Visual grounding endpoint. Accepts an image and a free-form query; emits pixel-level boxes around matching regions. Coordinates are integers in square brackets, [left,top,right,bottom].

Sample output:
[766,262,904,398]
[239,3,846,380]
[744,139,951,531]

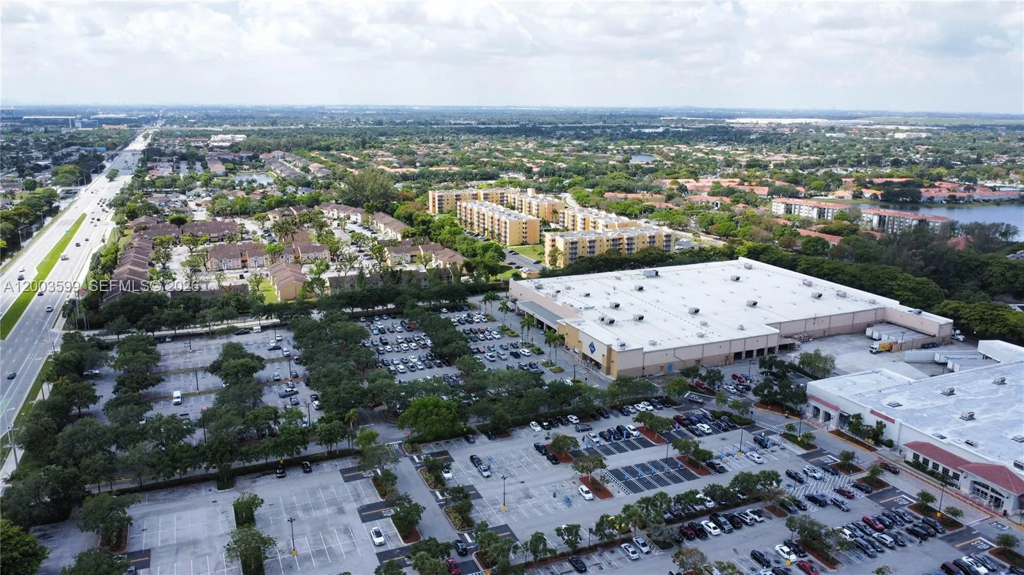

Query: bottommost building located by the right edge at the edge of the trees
[798,339,1024,524]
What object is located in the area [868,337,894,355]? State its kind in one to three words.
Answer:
vehicle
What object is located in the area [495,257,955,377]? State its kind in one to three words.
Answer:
building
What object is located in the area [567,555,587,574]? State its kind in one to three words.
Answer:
car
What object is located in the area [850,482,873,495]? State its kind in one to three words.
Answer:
vehicle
